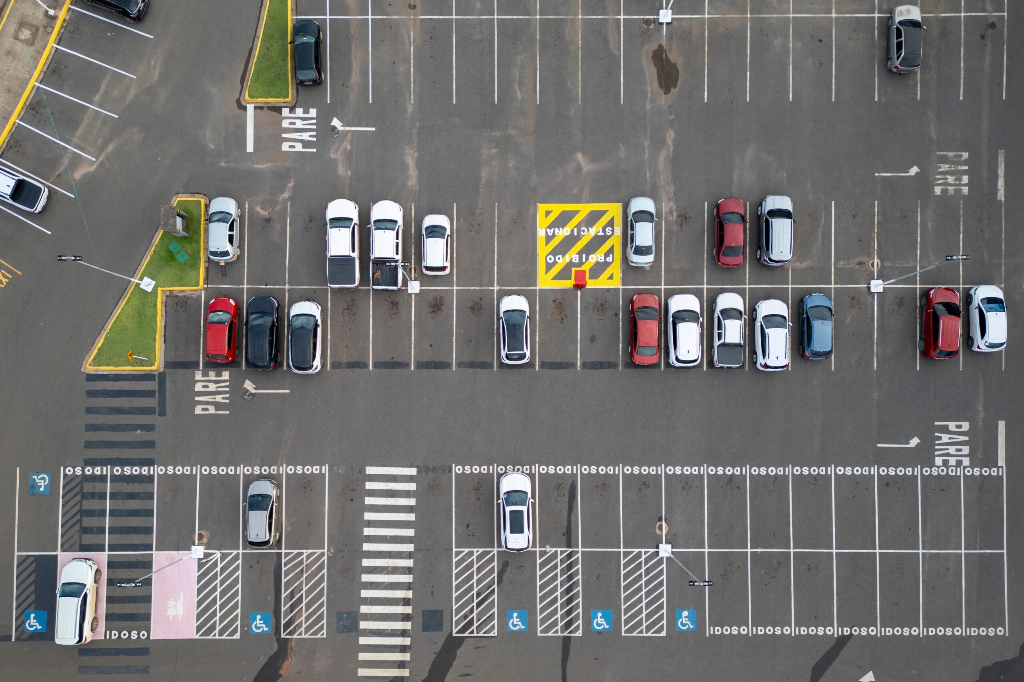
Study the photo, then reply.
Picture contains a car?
Yes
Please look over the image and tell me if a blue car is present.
Yes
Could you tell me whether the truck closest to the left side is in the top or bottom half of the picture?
top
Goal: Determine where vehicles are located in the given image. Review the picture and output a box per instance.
[624,196,660,267]
[497,295,532,364]
[323,199,363,290]
[289,19,326,87]
[965,285,1010,352]
[756,195,797,267]
[419,214,453,275]
[628,293,663,365]
[497,472,535,552]
[202,297,241,362]
[711,293,748,367]
[752,299,793,371]
[798,293,838,360]
[918,287,964,359]
[205,196,244,263]
[665,294,703,367]
[242,479,281,548]
[0,164,51,215]
[712,197,749,268]
[76,0,147,24]
[286,301,325,374]
[53,558,104,646]
[367,200,406,290]
[243,296,283,370]
[886,5,928,73]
